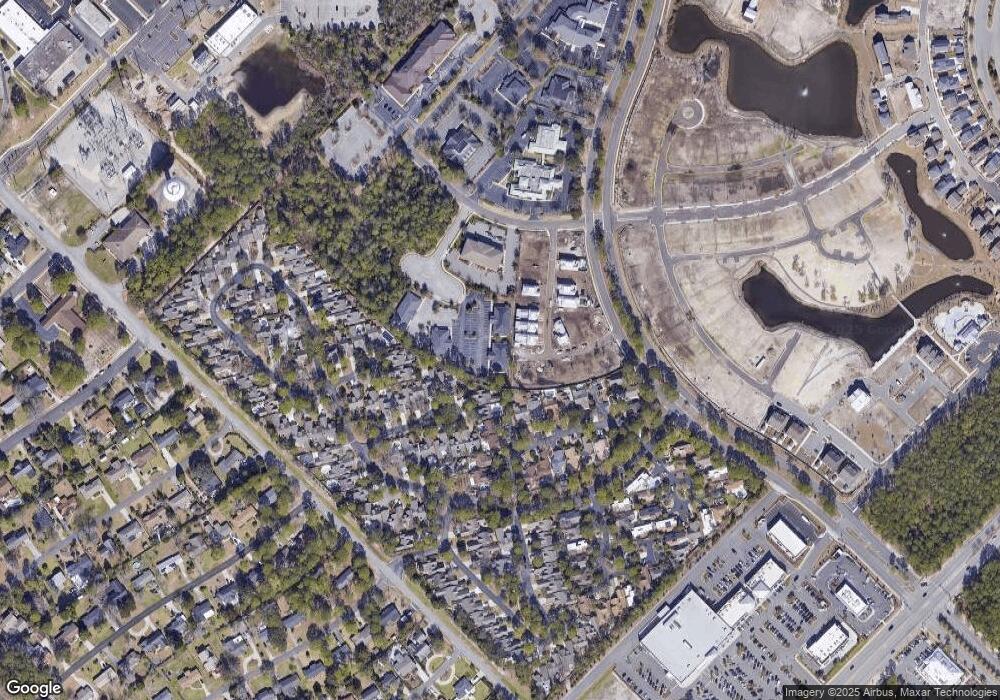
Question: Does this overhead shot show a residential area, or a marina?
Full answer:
It's a residential area.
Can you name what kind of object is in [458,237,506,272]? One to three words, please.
building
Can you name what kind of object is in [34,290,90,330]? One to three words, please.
building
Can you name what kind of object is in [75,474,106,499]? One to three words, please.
house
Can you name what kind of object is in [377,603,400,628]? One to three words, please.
house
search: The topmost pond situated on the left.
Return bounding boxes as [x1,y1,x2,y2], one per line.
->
[234,43,326,116]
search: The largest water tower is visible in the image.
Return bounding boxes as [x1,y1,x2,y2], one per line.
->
[161,177,183,199]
